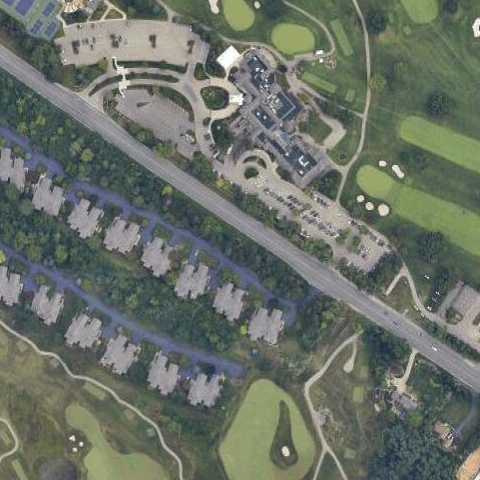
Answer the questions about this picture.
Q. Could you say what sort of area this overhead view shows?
golf course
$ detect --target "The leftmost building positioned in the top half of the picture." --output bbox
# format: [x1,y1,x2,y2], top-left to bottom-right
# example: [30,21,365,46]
[0,150,25,189]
